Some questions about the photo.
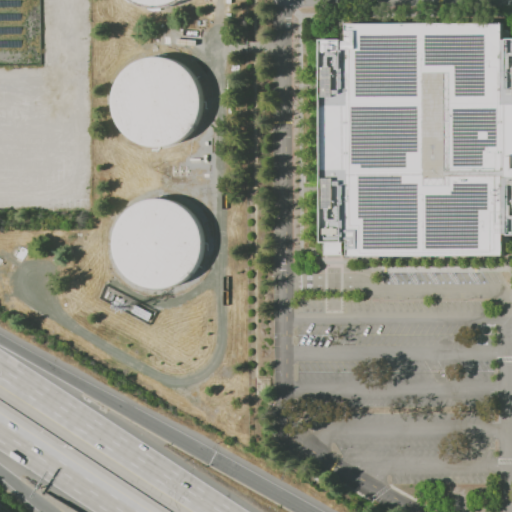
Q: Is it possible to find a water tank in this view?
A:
Yes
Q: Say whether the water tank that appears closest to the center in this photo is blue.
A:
No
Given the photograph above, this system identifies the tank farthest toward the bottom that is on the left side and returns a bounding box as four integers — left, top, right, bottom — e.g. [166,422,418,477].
[111,198,213,290]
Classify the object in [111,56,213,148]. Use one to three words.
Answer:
water tank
